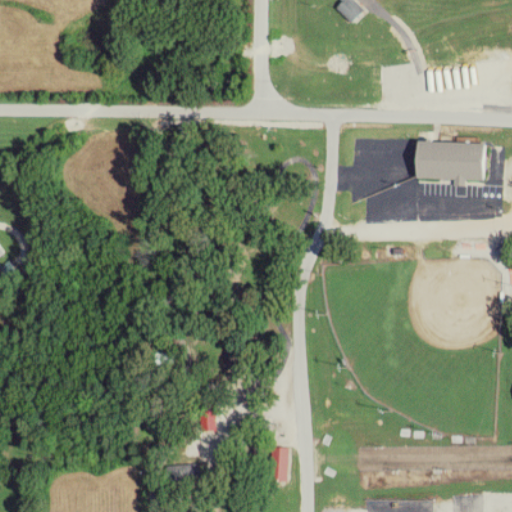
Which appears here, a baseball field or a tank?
baseball field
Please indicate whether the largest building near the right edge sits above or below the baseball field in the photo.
above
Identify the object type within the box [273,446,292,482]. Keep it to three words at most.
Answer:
barn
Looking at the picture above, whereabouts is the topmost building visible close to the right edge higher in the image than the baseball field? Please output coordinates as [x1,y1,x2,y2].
[414,140,487,188]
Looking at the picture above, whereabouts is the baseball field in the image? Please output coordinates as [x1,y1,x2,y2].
[322,242,502,440]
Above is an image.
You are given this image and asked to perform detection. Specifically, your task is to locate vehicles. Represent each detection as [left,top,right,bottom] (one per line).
[471,65,478,86]
[462,64,470,90]
[436,68,444,94]
[428,68,435,93]
[452,66,462,91]
[444,66,452,91]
